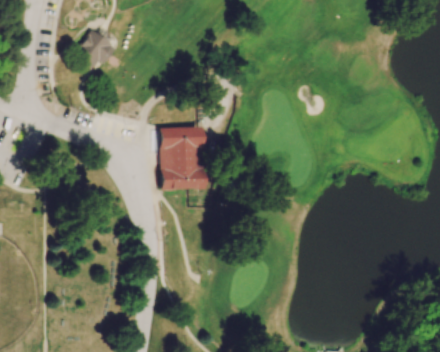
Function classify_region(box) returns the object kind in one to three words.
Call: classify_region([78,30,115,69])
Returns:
building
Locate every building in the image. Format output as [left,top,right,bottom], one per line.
[78,30,115,69]
[160,126,209,190]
